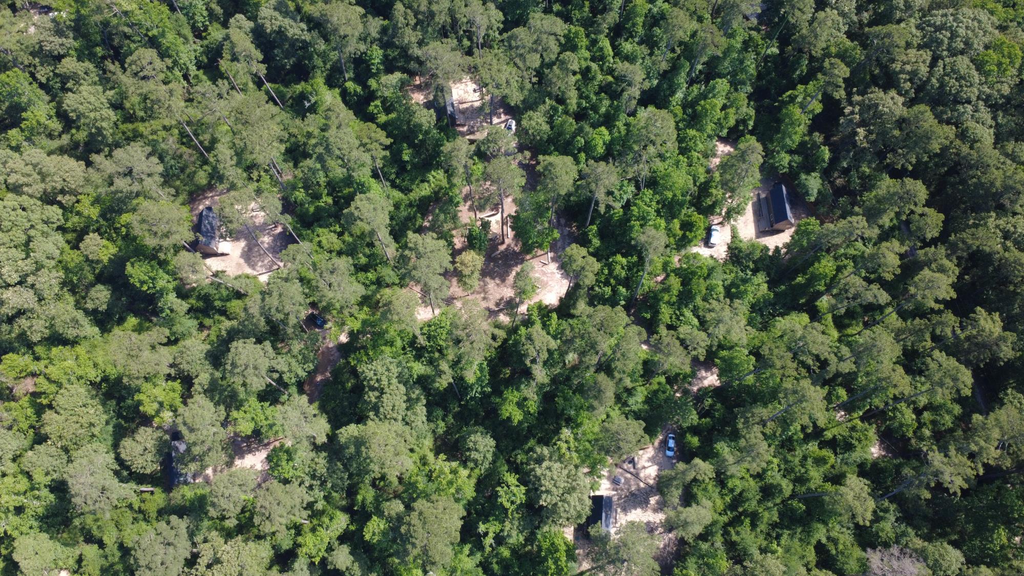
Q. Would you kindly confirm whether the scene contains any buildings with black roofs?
Yes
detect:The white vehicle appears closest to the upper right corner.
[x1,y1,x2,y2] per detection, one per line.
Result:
[707,225,721,248]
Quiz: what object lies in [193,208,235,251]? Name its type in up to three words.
building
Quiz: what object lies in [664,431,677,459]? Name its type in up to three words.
vehicle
